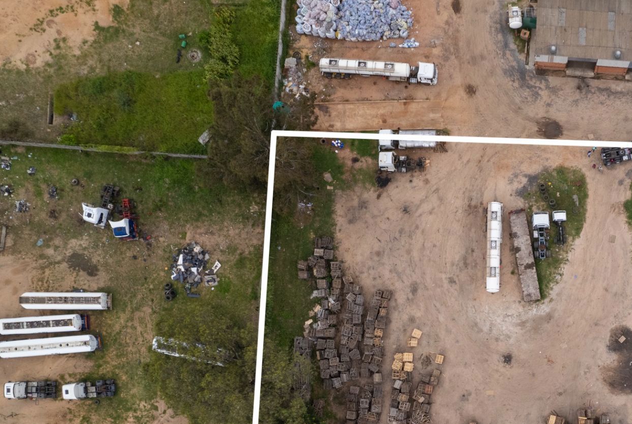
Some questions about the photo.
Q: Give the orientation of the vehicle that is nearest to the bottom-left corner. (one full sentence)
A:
From this overhead view, the vehicle that is nearest to the bottom-left corner appears to run horizontally.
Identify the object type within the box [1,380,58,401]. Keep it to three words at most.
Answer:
vehicle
